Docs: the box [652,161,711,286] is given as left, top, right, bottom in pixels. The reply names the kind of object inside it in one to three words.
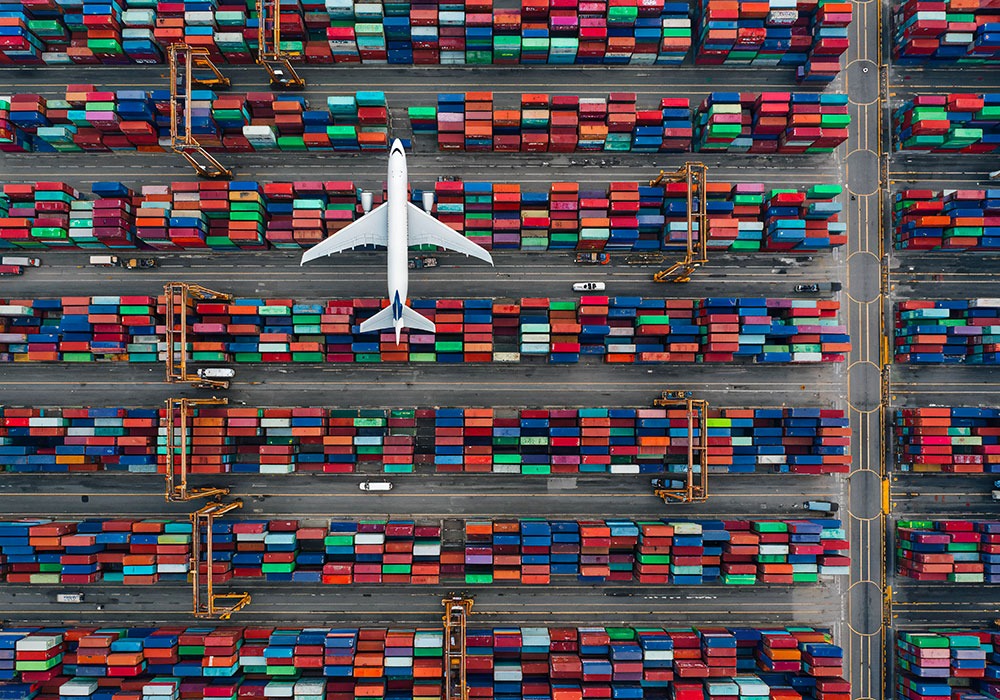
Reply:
container crane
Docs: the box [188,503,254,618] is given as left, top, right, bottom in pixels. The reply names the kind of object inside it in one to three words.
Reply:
container crane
